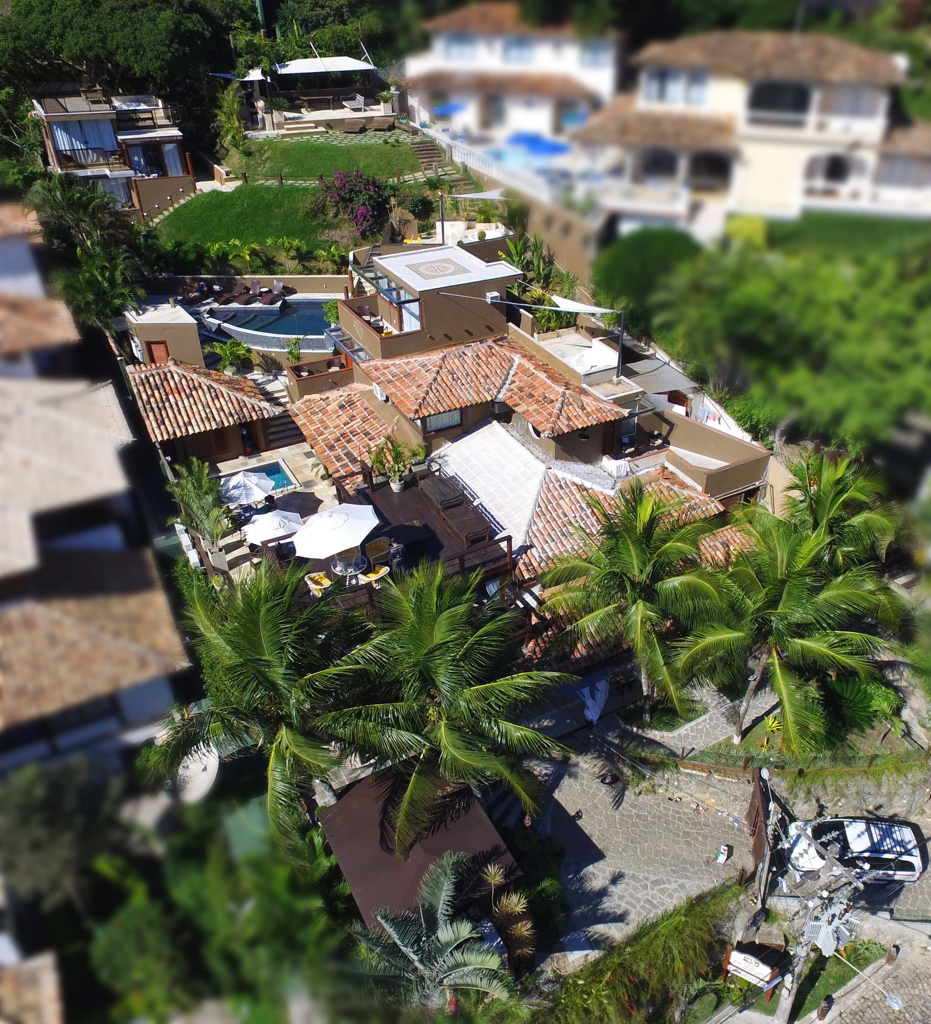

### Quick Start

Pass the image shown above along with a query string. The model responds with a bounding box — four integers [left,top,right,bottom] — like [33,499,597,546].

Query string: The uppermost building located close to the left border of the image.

[38,82,199,230]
